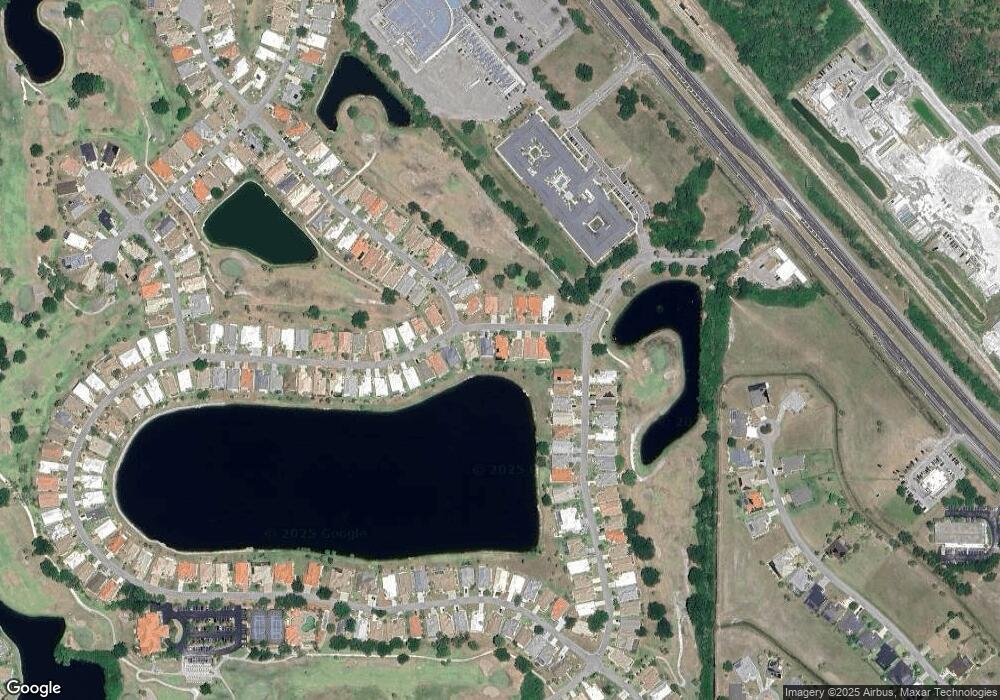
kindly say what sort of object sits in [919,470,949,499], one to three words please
building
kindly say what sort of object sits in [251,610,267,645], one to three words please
tennis court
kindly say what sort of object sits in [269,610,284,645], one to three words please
tennis court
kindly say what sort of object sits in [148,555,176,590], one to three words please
house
